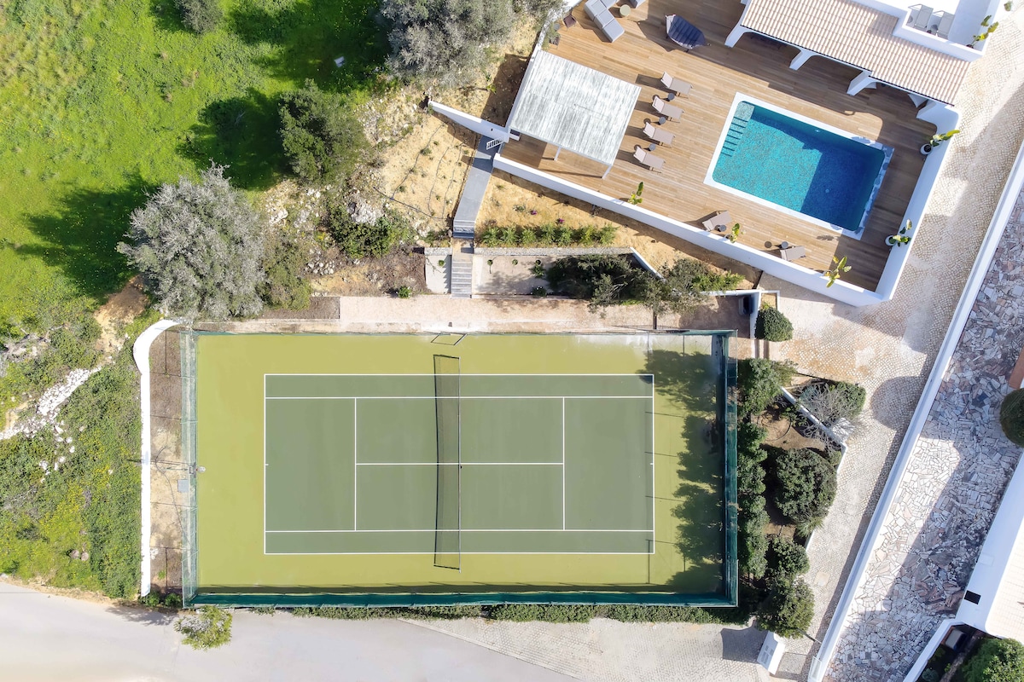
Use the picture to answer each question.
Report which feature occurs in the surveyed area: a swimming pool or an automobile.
swimming pool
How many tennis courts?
1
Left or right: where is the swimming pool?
right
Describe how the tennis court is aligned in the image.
from side to side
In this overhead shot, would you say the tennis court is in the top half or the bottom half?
bottom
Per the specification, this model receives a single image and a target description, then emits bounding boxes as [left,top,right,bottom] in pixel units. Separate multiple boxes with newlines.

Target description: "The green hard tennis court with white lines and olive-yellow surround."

[193,336,720,595]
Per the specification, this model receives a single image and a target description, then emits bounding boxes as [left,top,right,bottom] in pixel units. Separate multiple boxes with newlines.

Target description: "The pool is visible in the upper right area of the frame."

[704,92,893,239]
